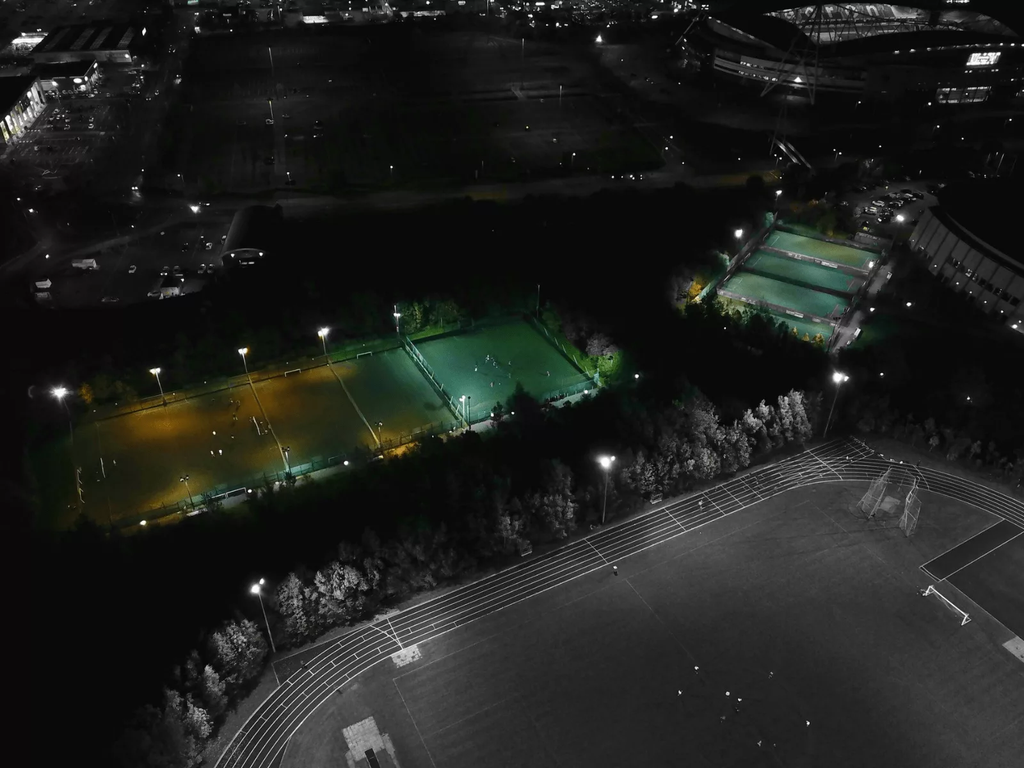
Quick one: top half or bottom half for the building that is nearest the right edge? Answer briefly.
top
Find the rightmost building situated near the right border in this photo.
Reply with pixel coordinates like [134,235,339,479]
[910,171,1024,338]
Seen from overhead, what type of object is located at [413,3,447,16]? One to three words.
building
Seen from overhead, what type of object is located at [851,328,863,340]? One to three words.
vehicle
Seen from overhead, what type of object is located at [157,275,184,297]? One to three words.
building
